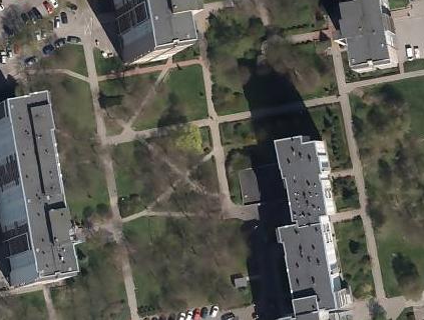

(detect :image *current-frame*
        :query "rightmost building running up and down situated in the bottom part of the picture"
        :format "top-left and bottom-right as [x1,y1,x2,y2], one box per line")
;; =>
[266,136,351,320]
